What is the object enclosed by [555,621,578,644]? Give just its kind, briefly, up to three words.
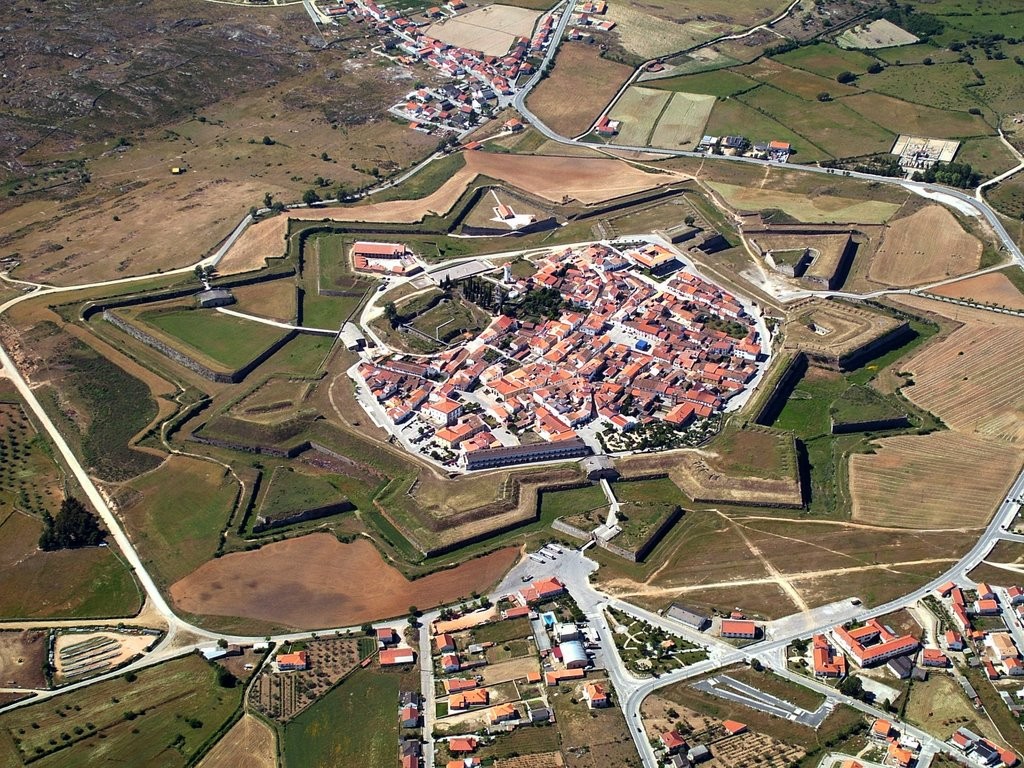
building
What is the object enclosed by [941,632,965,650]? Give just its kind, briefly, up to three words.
house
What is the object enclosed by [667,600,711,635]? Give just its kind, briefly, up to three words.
barn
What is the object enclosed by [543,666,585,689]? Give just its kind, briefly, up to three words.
shed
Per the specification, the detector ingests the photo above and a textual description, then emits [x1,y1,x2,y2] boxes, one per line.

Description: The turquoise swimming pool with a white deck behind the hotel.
[541,611,557,627]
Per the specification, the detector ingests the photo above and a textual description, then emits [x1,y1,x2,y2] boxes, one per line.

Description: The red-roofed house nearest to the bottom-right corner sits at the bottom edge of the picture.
[984,736,1015,768]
